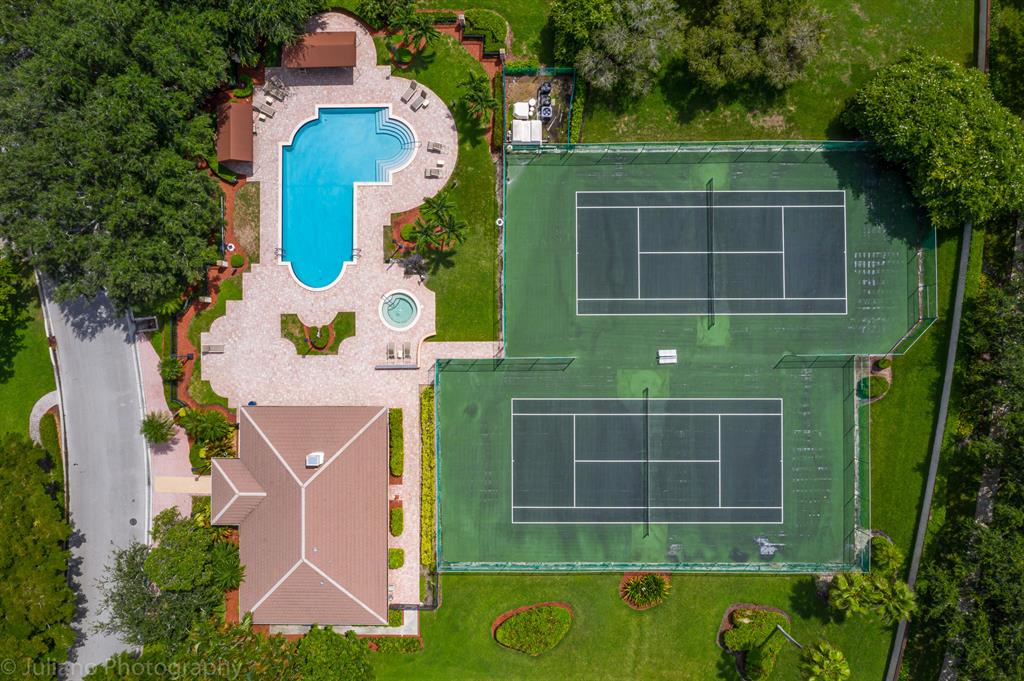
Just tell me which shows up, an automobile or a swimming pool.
swimming pool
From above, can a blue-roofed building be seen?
No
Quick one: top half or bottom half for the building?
bottom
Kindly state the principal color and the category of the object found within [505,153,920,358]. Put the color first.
green tennis court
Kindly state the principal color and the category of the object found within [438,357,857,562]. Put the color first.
green tennis court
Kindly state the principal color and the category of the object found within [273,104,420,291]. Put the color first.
blue swimming pool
